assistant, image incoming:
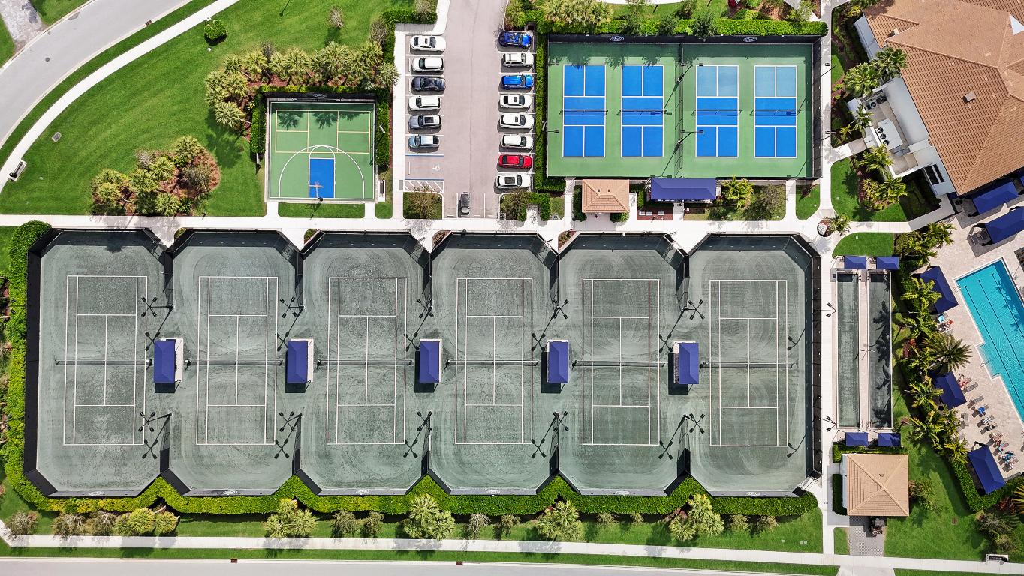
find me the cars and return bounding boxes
[501,91,532,107]
[411,54,444,71]
[501,111,533,128]
[411,74,445,90]
[408,133,439,148]
[409,112,441,129]
[502,132,533,148]
[409,94,441,110]
[499,152,532,168]
[498,172,531,188]
[411,33,445,50]
[503,49,534,67]
[502,71,533,88]
[500,28,532,46]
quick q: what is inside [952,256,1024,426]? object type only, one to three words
swimming pool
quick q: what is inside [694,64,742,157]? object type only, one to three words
sports court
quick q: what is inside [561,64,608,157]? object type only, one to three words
sports court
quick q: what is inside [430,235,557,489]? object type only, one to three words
tennis court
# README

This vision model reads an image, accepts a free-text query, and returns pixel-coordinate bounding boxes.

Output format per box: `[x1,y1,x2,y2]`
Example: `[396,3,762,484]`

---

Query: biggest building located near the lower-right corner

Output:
[841,454,910,517]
